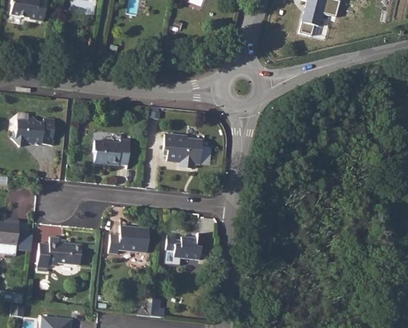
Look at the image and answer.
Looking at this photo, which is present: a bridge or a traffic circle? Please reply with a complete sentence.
The image shows a traffic circle.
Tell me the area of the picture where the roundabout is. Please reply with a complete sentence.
The roundabout is in the top part of the image.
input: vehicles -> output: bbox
[187,198,198,202]
[248,44,253,55]
[261,72,272,77]
[304,64,316,70]
[16,86,31,93]
[106,220,112,232]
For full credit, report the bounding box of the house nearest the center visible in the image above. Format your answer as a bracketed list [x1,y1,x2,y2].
[163,133,214,170]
